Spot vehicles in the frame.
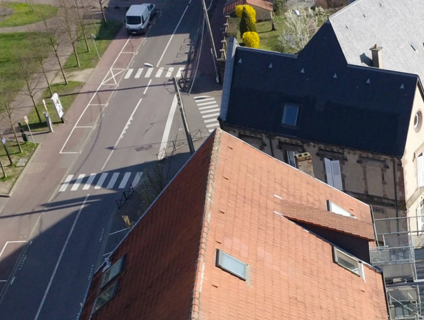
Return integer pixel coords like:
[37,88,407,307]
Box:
[124,3,149,32]
[144,1,159,17]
